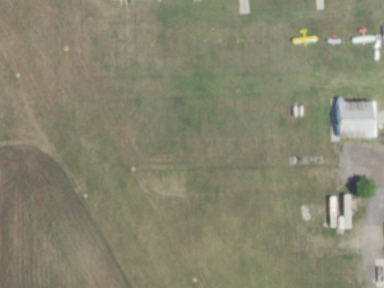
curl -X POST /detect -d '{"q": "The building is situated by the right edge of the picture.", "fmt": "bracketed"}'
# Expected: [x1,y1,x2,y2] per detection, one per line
[336,96,378,140]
